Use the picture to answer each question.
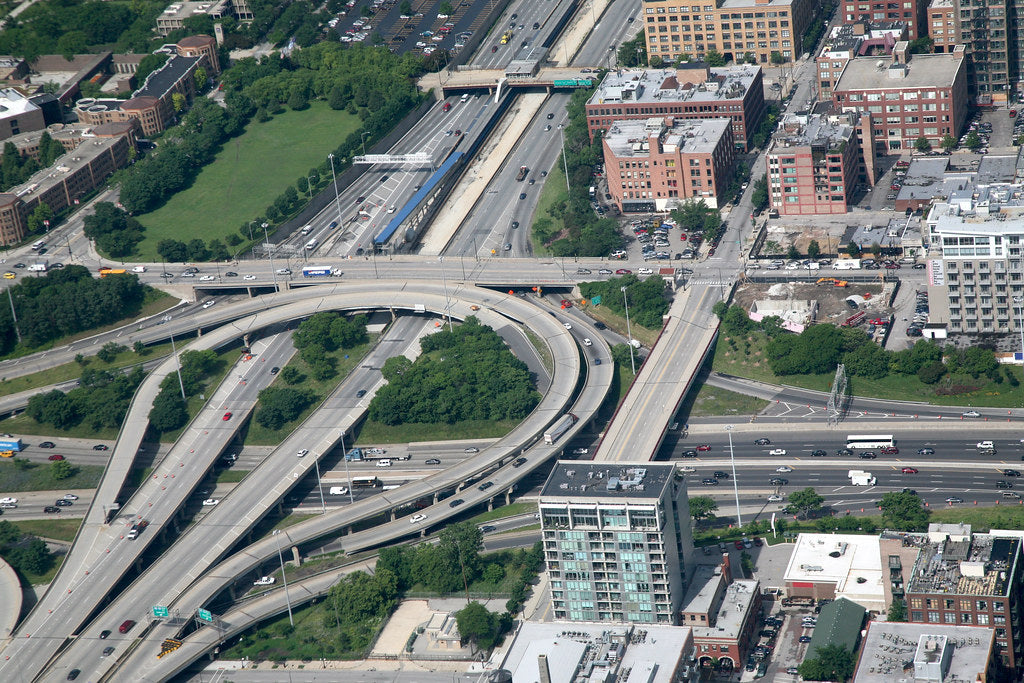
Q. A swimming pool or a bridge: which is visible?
bridge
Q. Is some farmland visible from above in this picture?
No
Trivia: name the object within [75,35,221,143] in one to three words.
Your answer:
building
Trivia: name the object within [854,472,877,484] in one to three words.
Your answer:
vehicle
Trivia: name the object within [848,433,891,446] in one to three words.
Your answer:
vehicle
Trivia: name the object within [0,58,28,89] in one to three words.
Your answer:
building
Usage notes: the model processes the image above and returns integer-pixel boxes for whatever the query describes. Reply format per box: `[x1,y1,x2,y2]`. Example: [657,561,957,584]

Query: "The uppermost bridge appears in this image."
[430,64,614,96]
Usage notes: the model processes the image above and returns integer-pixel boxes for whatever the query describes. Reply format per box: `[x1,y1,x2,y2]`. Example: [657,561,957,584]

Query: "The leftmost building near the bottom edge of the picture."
[427,613,474,655]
